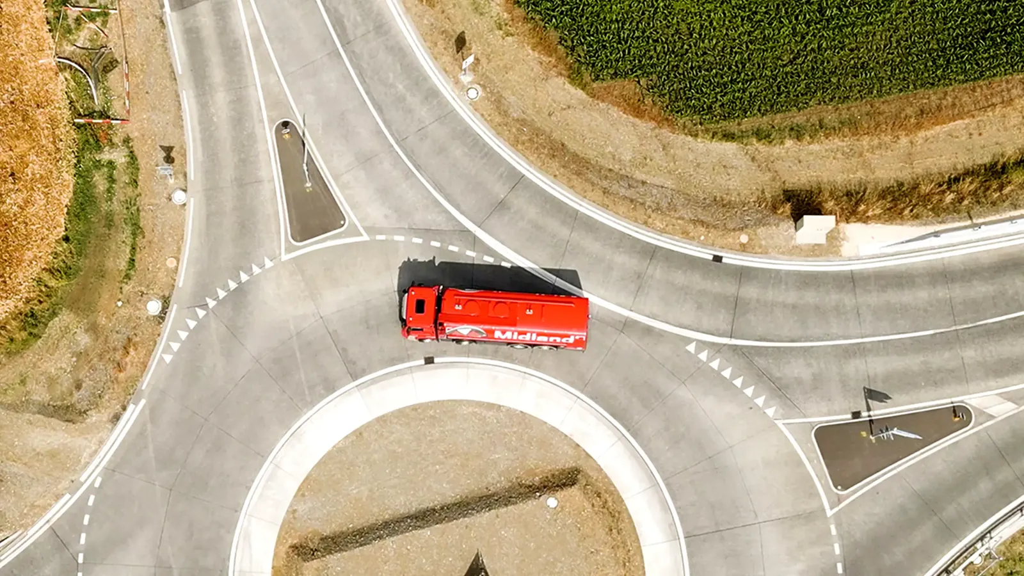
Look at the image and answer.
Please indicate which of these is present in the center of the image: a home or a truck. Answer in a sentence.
You can see a truck in the center of the image.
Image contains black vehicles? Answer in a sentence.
No, this view has no black vehicle in it.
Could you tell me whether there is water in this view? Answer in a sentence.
No, there's no water in this view.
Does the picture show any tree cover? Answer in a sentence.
No, the picture contains no tree cover.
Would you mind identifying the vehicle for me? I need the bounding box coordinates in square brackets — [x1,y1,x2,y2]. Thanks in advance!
[397,283,591,350]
